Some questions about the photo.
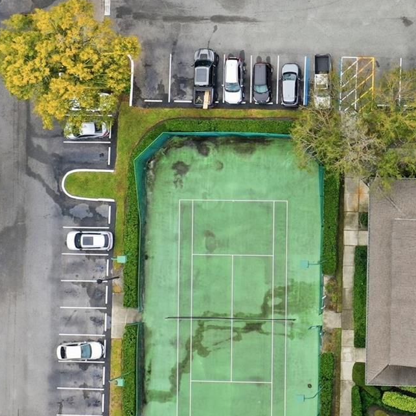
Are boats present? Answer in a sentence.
No, no boat is visible in the view.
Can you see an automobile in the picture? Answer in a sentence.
Yes, an automobile appears in the view.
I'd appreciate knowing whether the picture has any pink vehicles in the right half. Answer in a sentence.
No, there's no pink vehicle to be seen in the right half.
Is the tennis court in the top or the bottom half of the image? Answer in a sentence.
The tennis court is in the bottom half of the image.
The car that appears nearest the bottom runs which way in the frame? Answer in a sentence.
Seen from above, the car that appears nearest the bottom lies horizontally.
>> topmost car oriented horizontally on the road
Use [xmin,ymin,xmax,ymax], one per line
[64,118,111,142]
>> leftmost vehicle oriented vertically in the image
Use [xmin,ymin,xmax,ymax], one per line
[192,49,219,108]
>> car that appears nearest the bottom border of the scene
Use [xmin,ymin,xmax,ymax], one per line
[56,340,105,363]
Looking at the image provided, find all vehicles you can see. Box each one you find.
[221,57,245,105]
[310,54,333,110]
[250,62,273,105]
[66,229,114,253]
[64,118,111,142]
[56,340,105,363]
[278,63,302,107]
[192,49,219,108]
